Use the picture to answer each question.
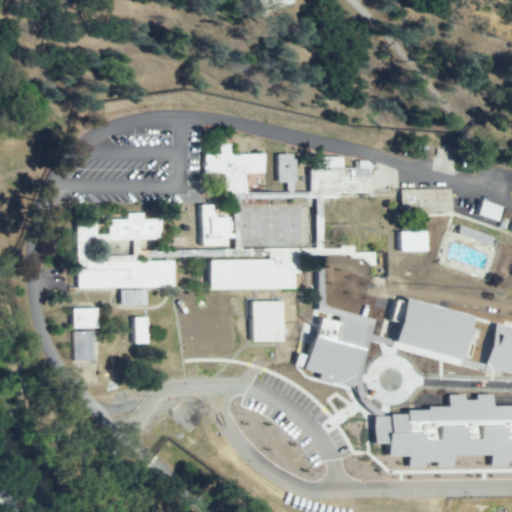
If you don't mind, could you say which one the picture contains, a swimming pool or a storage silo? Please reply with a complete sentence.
There is a swimming pool in the scene.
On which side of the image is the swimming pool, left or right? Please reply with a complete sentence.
The swimming pool sits on the right side.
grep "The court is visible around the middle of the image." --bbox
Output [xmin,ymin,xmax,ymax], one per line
[244,205,301,247]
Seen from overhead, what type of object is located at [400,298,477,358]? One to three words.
building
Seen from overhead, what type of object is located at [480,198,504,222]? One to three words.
shed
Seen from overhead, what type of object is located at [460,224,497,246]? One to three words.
building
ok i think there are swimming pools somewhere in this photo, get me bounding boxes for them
[438,228,497,279]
